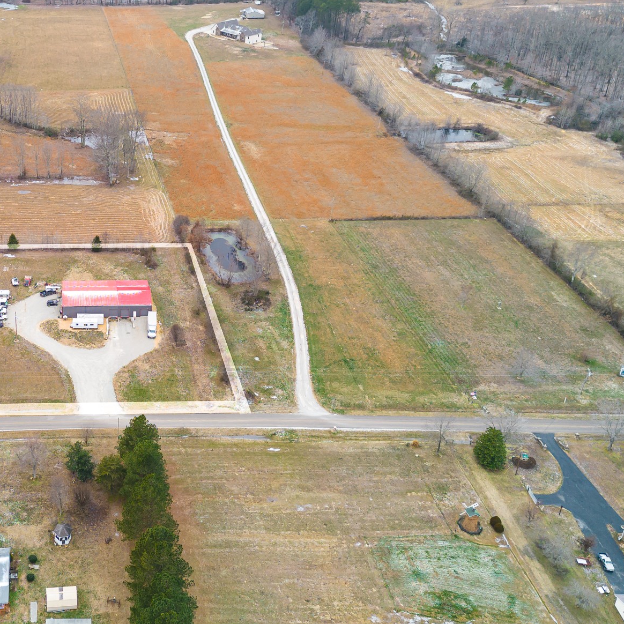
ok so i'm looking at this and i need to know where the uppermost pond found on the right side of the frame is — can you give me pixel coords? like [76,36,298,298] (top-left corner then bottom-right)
[432,53,558,106]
